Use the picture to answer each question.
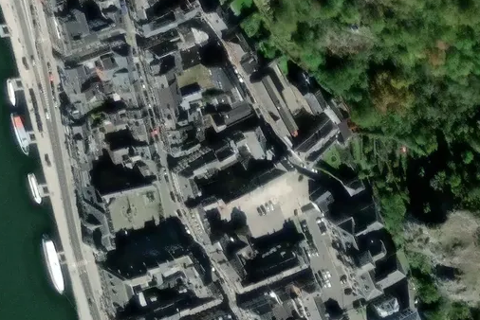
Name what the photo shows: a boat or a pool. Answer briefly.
boat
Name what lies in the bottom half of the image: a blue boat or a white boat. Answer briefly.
white boat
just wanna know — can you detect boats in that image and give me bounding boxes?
[11,114,28,156]
[28,173,40,204]
[41,236,63,293]
[8,79,17,107]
